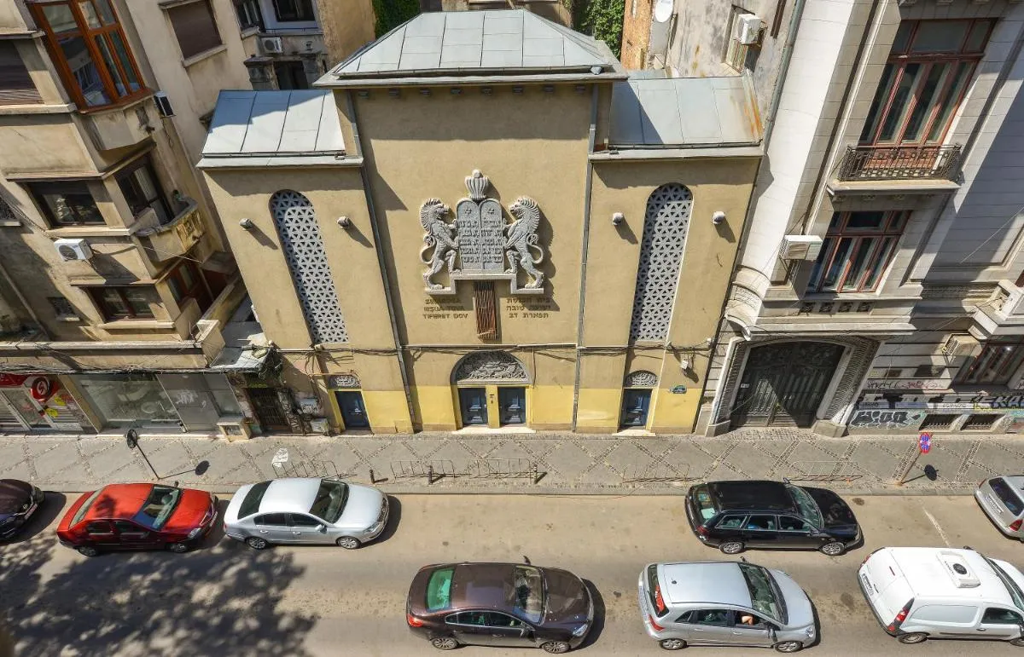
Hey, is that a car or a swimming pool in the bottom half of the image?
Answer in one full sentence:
There is a car in the bottom half of the image.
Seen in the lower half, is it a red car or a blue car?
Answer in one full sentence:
Visible in the lower half is a red car.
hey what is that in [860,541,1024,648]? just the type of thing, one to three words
van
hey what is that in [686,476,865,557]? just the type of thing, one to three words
car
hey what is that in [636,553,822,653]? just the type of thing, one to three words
car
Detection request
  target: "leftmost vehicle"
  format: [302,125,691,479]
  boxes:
[0,476,49,548]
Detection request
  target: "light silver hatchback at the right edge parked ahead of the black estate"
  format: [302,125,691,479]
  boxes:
[982,479,1024,550]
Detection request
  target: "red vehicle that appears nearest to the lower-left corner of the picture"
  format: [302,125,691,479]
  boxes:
[58,478,223,558]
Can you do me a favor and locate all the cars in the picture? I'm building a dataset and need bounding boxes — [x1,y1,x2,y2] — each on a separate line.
[0,476,49,548]
[636,553,822,653]
[686,476,865,557]
[405,552,595,653]
[219,474,390,553]
[58,478,223,558]
[982,479,1024,550]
